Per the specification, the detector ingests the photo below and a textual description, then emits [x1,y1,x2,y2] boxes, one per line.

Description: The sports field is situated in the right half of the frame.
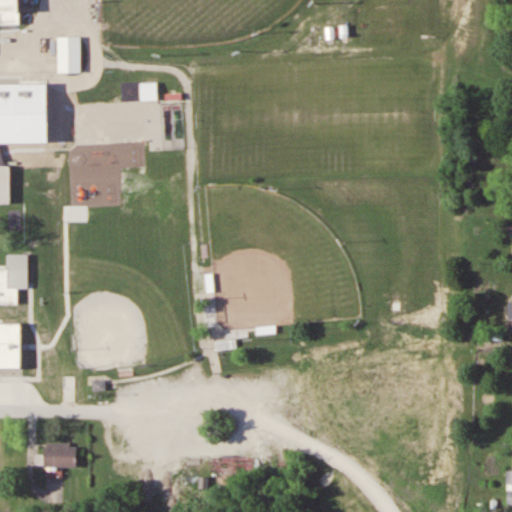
[197,55,442,180]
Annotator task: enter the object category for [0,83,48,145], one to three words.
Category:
building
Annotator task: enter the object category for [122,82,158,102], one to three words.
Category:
shed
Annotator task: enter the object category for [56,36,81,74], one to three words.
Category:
barn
